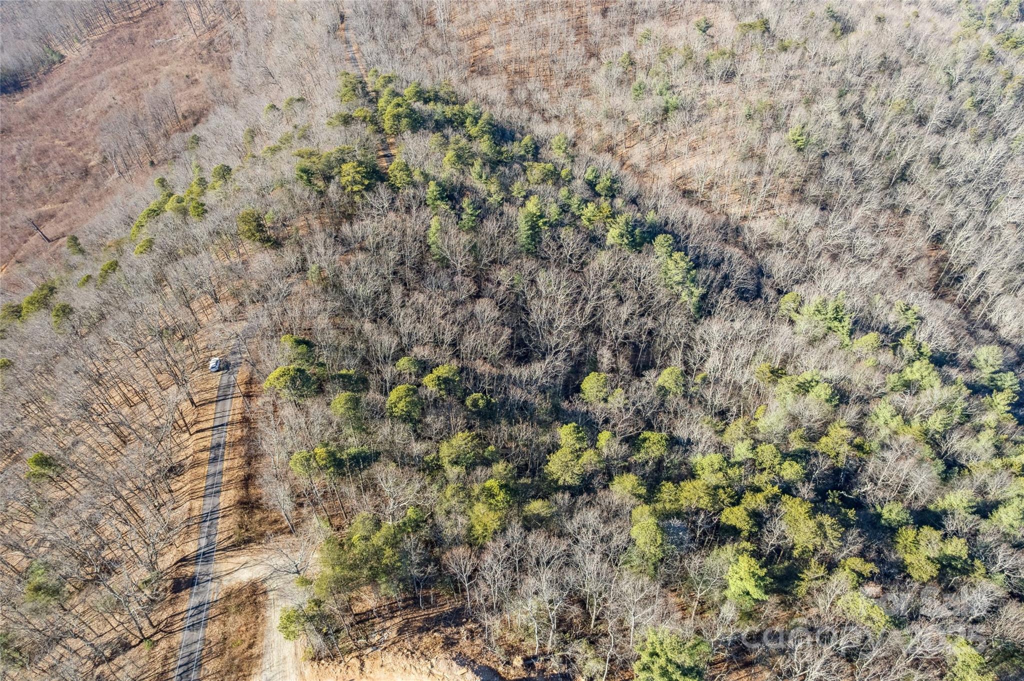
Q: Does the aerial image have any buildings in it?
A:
No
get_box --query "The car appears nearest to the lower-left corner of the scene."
[208,360,220,378]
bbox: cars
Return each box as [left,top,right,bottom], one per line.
[385,150,392,160]
[208,360,220,378]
